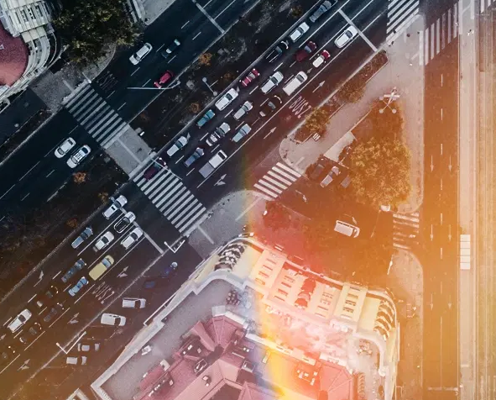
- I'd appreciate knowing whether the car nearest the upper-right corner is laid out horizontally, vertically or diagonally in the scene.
diagonally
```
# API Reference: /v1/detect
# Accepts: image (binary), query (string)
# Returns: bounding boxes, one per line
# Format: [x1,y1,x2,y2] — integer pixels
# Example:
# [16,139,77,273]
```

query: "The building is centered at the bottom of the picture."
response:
[66,236,399,400]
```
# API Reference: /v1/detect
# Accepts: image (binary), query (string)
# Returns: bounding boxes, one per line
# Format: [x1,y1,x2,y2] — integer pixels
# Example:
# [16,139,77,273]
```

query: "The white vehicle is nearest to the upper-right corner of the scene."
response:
[335,26,357,48]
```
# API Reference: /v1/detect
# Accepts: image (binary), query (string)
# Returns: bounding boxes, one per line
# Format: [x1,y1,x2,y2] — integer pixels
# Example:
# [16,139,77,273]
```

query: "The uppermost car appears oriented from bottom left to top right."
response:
[313,0,335,22]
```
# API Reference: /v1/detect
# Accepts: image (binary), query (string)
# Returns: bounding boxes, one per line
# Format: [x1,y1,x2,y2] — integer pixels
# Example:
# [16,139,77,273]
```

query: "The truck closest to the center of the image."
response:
[199,151,227,178]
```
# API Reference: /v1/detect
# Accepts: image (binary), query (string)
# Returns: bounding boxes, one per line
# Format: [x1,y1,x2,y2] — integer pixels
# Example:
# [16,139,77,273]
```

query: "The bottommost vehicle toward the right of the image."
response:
[334,219,362,237]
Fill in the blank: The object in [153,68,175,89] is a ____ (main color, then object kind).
red car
